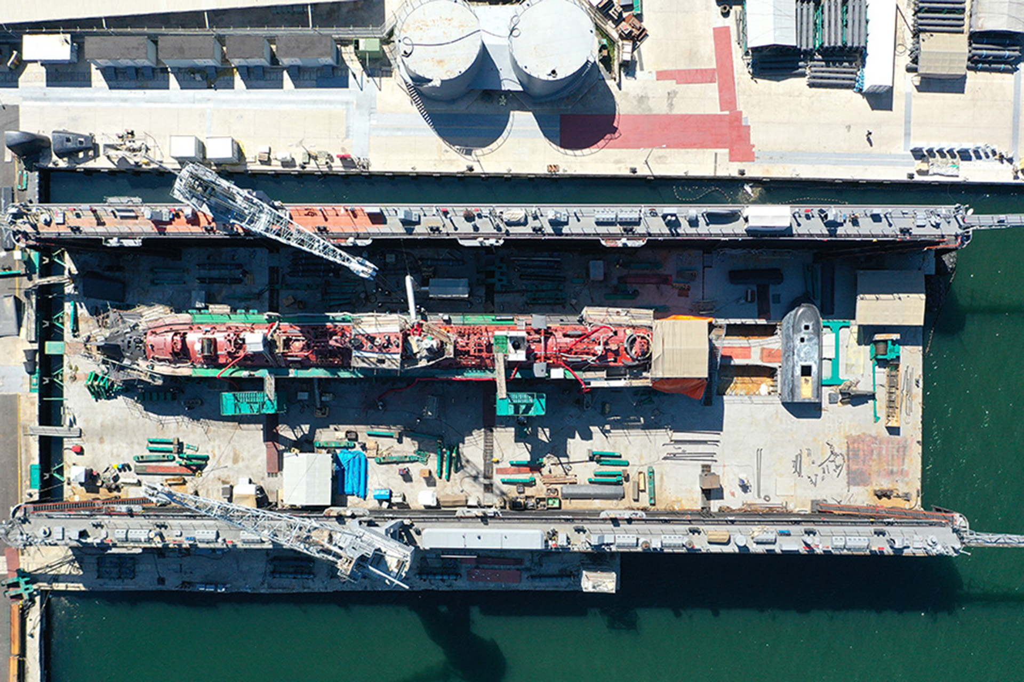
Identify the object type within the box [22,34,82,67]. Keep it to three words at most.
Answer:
shed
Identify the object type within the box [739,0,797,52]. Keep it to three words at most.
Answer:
shed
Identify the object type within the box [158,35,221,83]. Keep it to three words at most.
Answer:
building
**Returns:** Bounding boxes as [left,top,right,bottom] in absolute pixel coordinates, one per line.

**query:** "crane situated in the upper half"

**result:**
[140,150,408,302]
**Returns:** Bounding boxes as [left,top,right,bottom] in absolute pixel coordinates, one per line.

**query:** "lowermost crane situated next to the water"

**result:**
[145,479,433,591]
